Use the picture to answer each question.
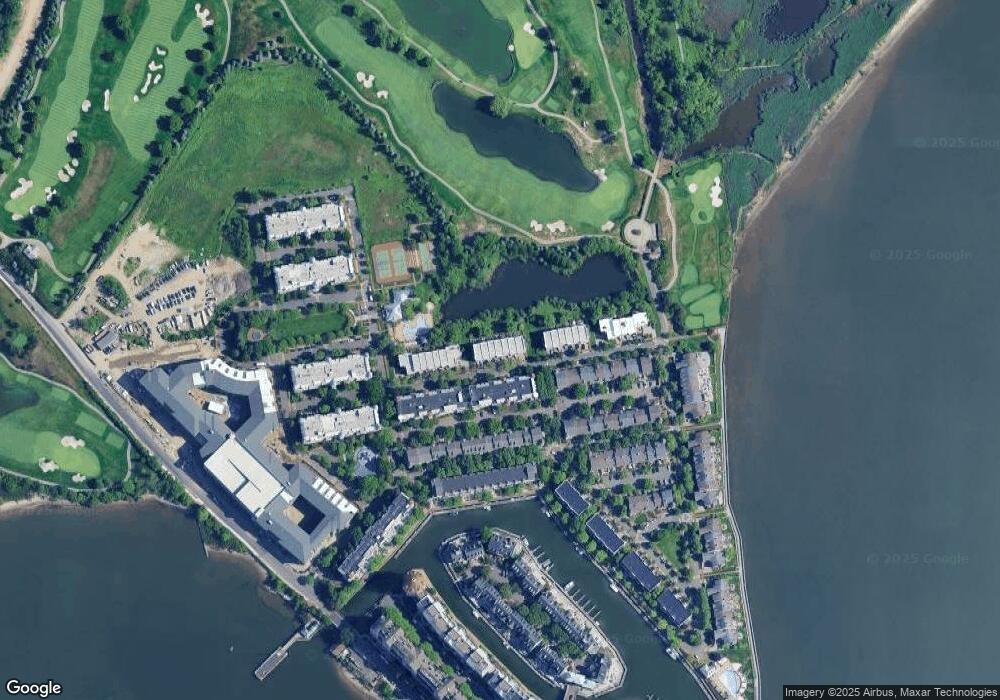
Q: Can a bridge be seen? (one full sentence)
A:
Yes, a bridge is visible in the scene.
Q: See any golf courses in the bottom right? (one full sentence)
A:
No, in the bottom right there is no golf course.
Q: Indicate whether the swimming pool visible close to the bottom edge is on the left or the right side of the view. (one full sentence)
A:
The swimming pool visible close to the bottom edge is on the right side of the image.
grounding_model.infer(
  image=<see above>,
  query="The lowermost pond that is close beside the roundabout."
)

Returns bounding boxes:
[441,254,635,322]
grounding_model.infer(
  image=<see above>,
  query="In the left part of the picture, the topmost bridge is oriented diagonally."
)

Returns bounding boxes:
[318,599,361,646]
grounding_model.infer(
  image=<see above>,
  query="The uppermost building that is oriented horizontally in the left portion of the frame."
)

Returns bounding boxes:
[266,203,347,243]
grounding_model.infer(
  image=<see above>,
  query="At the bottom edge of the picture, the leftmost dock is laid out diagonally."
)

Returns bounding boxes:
[254,628,304,680]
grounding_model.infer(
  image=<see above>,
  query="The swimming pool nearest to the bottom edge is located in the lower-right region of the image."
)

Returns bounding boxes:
[709,657,746,700]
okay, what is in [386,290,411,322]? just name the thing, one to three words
building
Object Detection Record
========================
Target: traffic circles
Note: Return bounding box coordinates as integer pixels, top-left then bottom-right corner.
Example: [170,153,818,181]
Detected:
[622,175,656,252]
